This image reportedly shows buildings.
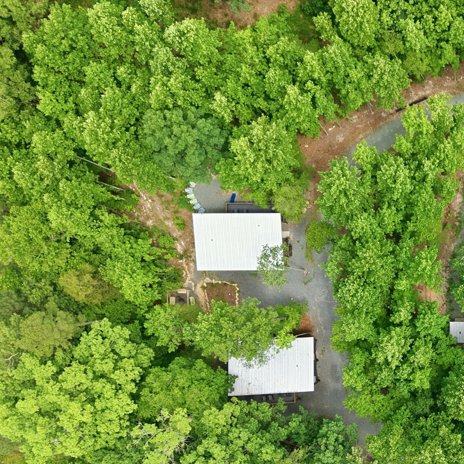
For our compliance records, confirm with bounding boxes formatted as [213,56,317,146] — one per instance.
[449,318,464,343]
[193,203,292,271]
[228,338,321,403]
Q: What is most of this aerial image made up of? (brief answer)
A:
trees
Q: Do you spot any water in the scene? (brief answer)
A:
No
